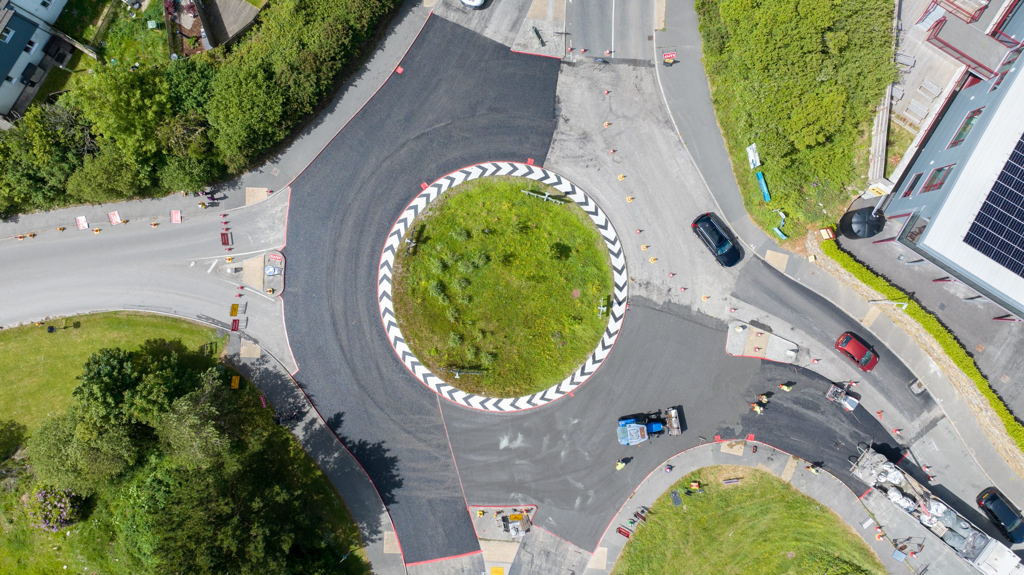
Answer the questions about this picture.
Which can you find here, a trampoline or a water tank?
water tank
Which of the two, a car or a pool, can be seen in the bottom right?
car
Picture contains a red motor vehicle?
Yes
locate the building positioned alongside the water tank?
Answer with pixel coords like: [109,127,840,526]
[873,0,1024,321]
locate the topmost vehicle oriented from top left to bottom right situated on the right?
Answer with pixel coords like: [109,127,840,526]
[692,212,739,268]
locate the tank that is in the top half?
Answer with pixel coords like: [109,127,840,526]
[842,203,892,241]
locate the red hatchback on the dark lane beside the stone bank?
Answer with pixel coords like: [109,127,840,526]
[834,332,879,373]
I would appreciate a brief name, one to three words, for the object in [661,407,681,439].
vehicle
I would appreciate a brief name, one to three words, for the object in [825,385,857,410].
work vehicle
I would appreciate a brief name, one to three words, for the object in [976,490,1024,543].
car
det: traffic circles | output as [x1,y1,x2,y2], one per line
[379,162,628,411]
